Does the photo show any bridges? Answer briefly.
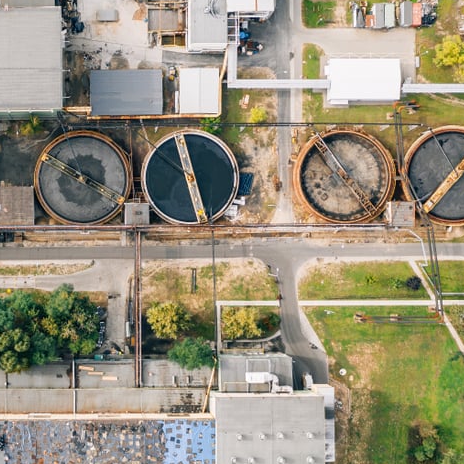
Yes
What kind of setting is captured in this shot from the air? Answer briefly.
industrial area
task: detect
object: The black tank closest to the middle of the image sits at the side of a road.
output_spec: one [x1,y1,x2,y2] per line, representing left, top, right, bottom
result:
[138,129,239,226]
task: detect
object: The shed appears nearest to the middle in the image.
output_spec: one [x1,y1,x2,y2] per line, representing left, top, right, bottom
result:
[123,203,148,223]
